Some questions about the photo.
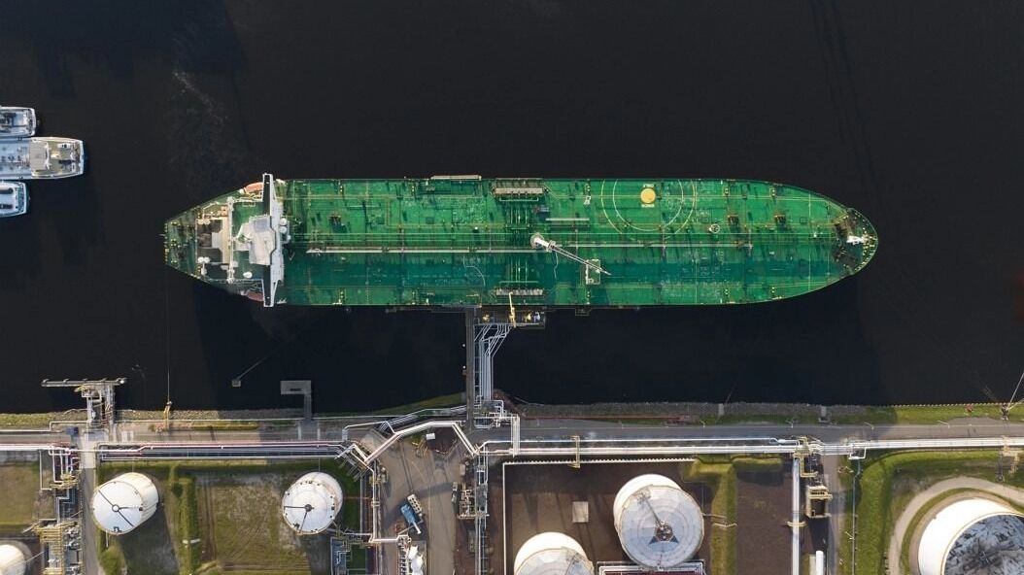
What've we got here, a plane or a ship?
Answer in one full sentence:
Looking from above, you can make out a ship.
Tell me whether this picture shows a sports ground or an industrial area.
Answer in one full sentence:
The picture captures an industrial area.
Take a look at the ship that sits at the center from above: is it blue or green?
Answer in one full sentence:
The color of the ship that sits at the center is green.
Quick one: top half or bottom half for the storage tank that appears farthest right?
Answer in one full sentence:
The bottom half of the photo is where the storage tank that appears farthest right is.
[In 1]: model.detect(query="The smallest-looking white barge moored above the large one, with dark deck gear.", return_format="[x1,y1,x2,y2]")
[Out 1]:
[0,106,39,136]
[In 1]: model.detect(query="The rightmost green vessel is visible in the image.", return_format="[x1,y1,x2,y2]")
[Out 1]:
[164,172,880,313]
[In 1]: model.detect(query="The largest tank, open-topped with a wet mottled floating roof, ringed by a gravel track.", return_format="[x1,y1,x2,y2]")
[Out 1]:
[919,498,1024,575]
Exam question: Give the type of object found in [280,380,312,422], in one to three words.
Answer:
pier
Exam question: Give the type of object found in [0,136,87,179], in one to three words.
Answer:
ship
